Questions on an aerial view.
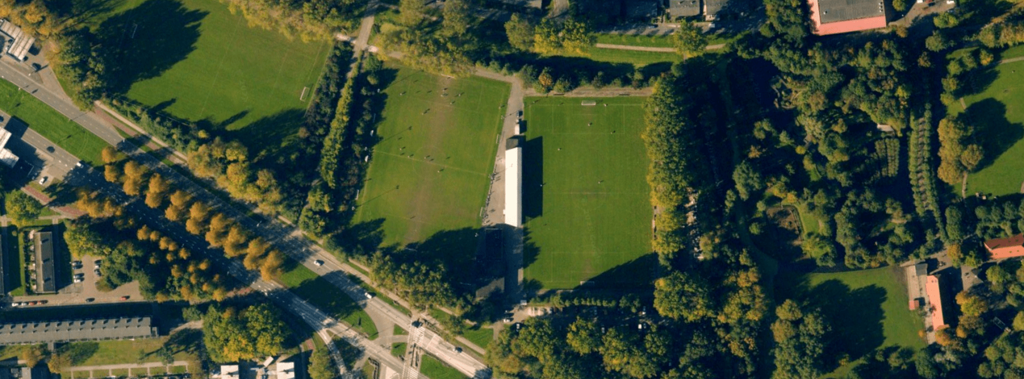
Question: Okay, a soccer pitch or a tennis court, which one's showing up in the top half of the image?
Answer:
soccer pitch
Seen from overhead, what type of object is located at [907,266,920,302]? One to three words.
shed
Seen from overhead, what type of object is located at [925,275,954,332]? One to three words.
house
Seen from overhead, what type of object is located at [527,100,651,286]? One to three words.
soccer field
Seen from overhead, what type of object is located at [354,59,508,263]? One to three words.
soccer field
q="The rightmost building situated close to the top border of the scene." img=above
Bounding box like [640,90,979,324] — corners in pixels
[808,0,886,37]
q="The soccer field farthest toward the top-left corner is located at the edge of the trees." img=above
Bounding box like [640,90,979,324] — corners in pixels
[112,0,331,147]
